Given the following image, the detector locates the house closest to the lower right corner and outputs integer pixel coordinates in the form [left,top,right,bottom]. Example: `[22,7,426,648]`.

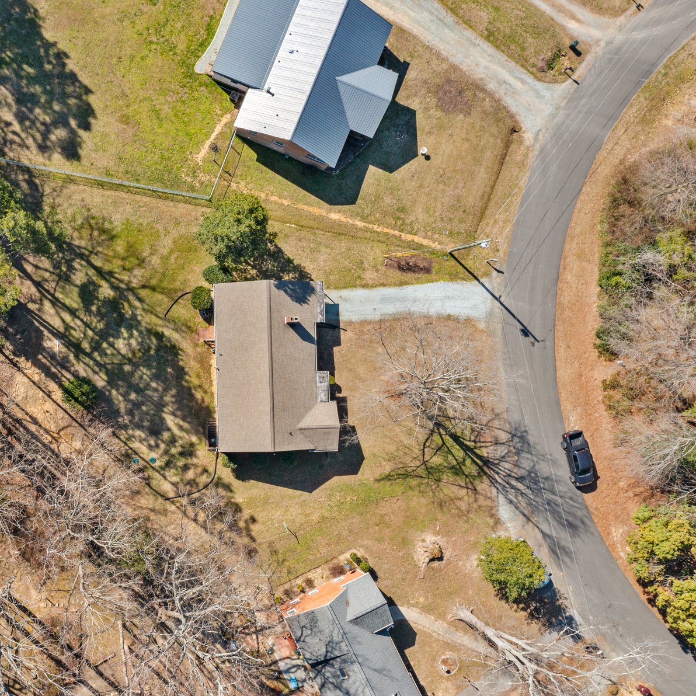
[281,571,423,696]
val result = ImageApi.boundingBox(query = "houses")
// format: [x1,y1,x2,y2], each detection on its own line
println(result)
[213,280,340,453]
[213,0,398,181]
[281,571,423,696]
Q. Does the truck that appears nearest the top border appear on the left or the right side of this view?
right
